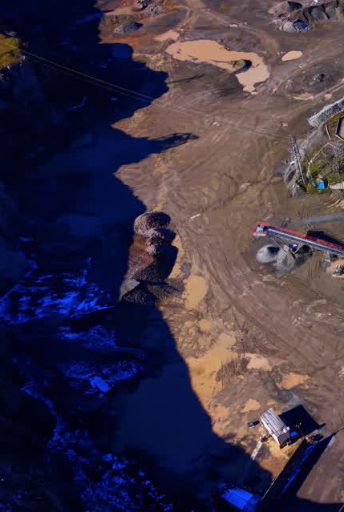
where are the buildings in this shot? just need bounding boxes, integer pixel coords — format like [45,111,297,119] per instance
[219,480,262,512]
[260,408,297,449]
